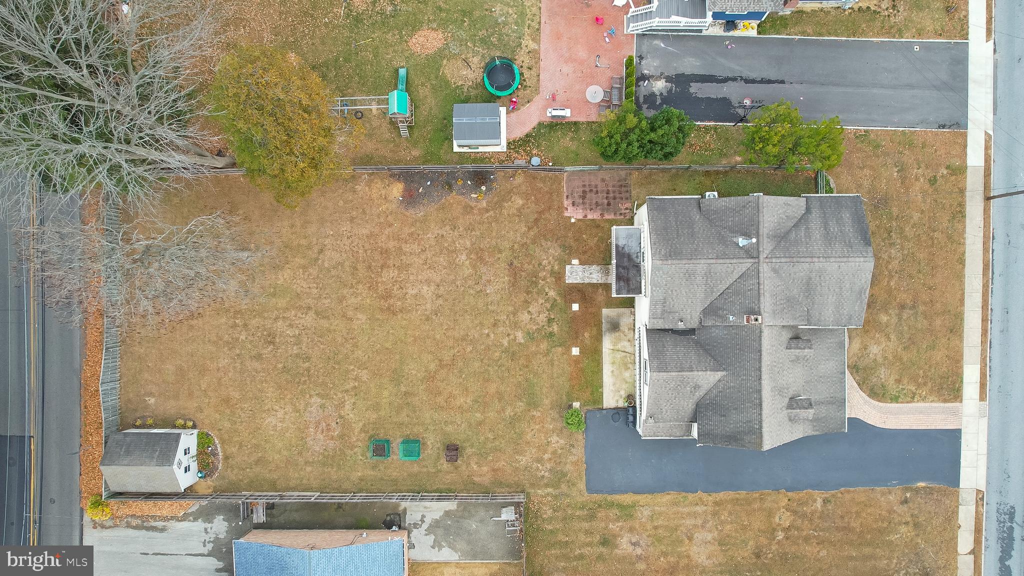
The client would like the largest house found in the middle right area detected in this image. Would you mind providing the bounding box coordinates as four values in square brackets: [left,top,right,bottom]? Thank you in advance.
[633,194,892,450]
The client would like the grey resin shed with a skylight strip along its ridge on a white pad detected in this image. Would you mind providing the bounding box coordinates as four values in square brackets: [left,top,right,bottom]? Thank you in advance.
[452,104,501,144]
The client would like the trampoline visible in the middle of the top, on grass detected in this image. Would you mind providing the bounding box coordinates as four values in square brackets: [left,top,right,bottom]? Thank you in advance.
[484,54,520,98]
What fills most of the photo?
grass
